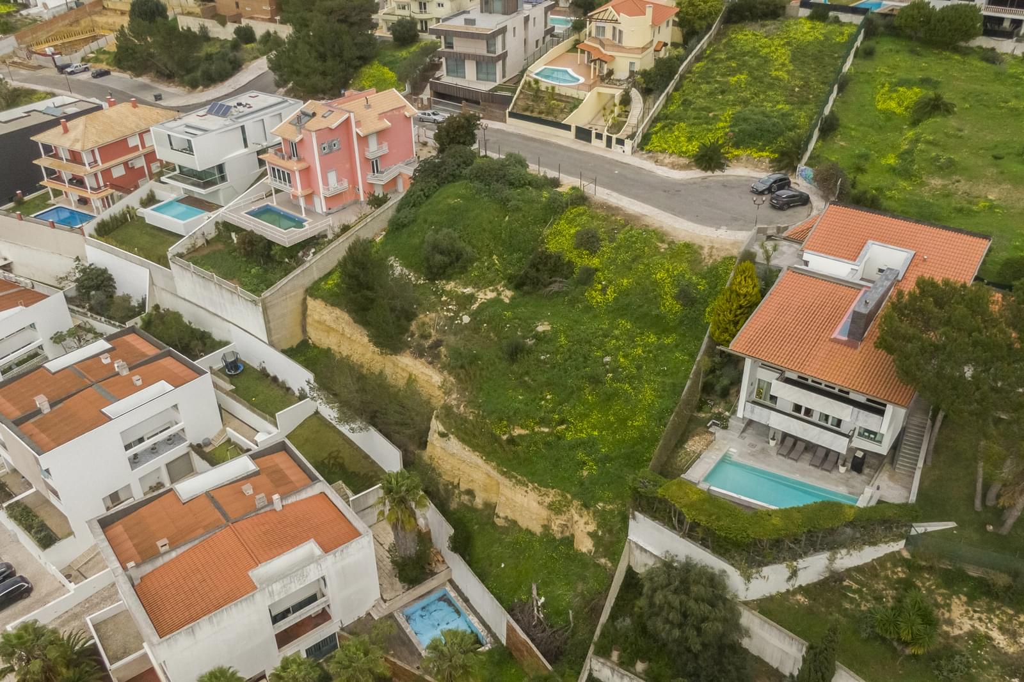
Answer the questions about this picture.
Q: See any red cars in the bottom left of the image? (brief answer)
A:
No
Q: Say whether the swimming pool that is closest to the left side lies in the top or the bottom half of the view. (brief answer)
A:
top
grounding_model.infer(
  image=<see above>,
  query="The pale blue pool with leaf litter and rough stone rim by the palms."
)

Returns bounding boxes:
[398,586,494,682]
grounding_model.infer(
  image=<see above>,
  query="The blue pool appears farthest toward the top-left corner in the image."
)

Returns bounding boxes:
[30,205,97,231]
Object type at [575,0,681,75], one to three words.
house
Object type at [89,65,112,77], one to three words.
vehicle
